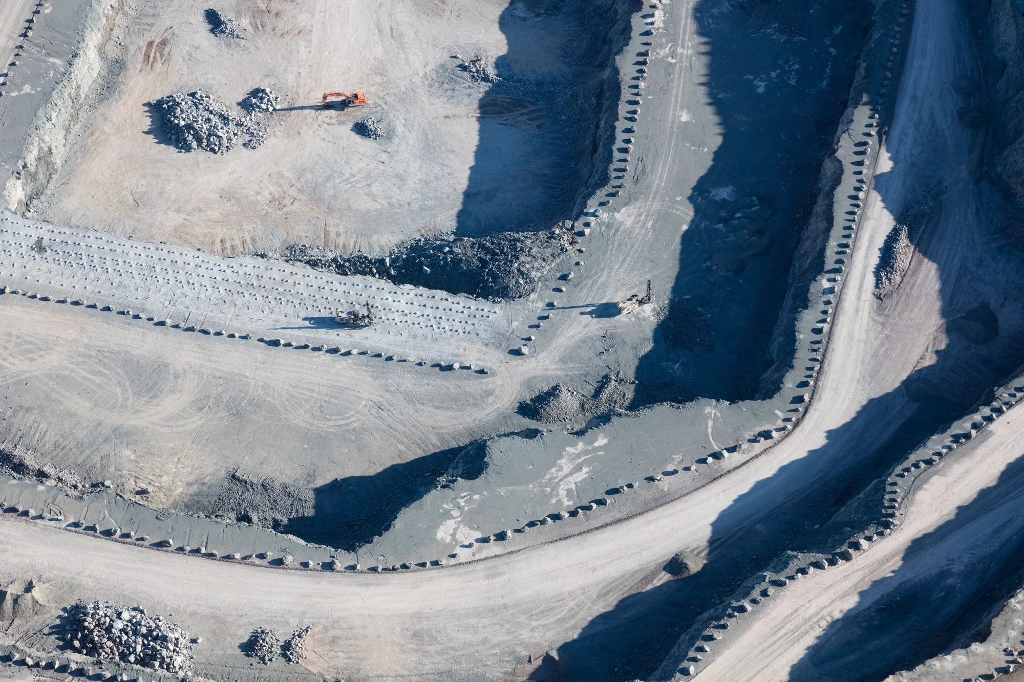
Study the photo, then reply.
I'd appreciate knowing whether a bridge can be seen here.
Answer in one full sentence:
No, there is no bridge in the image.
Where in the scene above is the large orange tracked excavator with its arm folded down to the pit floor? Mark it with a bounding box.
[324,89,368,112]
